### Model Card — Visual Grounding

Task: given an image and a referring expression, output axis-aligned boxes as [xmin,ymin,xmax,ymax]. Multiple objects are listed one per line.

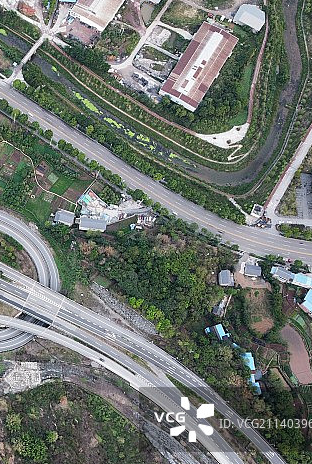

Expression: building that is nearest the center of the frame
[77,217,108,232]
